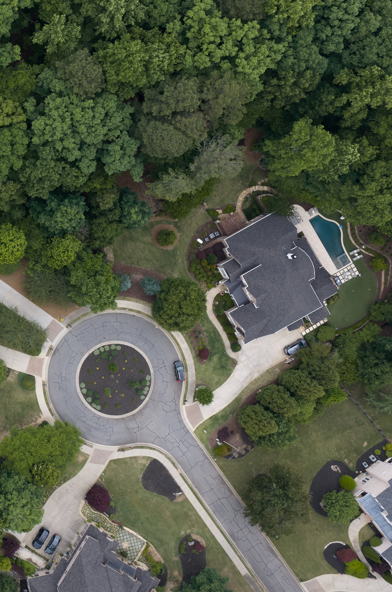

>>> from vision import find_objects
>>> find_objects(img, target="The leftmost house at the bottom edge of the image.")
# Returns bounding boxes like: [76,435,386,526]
[26,516,161,592]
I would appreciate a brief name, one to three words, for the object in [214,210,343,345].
house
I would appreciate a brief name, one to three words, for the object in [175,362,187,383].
vehicle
